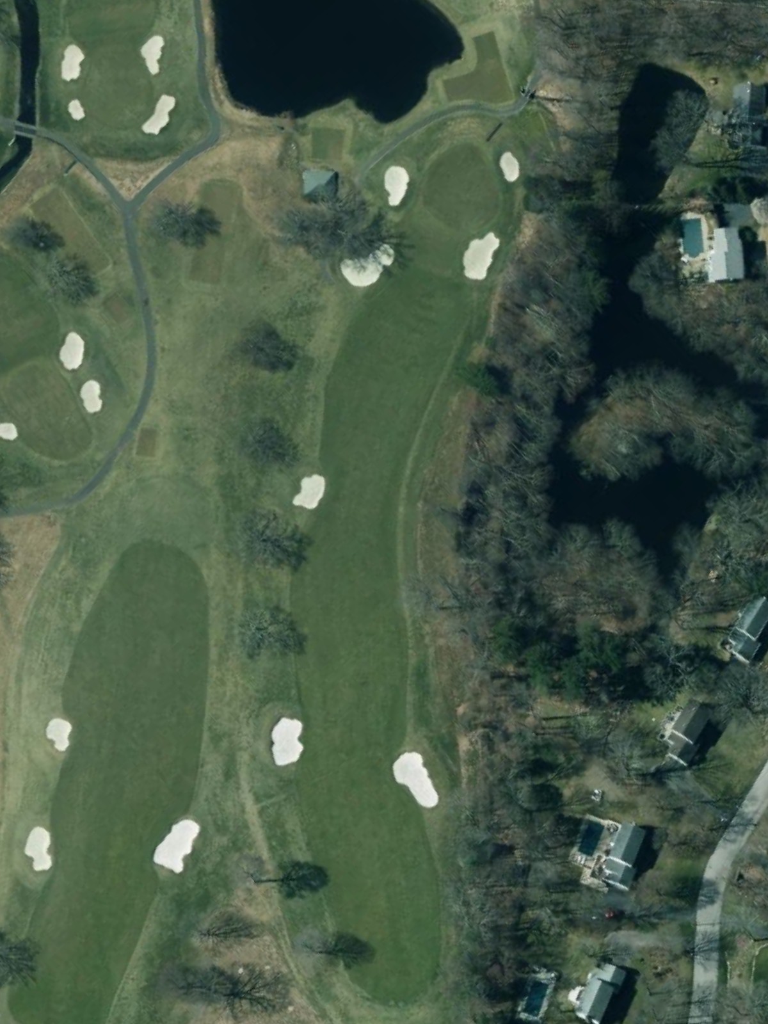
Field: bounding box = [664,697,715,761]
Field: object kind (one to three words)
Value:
house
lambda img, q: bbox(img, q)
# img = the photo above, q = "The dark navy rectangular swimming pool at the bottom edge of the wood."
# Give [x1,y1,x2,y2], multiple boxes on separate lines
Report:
[523,978,550,1018]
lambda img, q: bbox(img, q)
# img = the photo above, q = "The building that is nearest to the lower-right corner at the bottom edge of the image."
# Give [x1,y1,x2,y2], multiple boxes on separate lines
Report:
[576,963,629,1022]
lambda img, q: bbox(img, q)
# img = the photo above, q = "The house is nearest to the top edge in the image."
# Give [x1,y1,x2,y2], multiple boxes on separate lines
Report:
[731,80,768,154]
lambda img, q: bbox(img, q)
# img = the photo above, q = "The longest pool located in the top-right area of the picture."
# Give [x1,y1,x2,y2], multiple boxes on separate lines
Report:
[682,218,704,257]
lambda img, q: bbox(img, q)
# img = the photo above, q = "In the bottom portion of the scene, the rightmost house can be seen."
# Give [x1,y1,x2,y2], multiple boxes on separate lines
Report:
[725,595,768,659]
